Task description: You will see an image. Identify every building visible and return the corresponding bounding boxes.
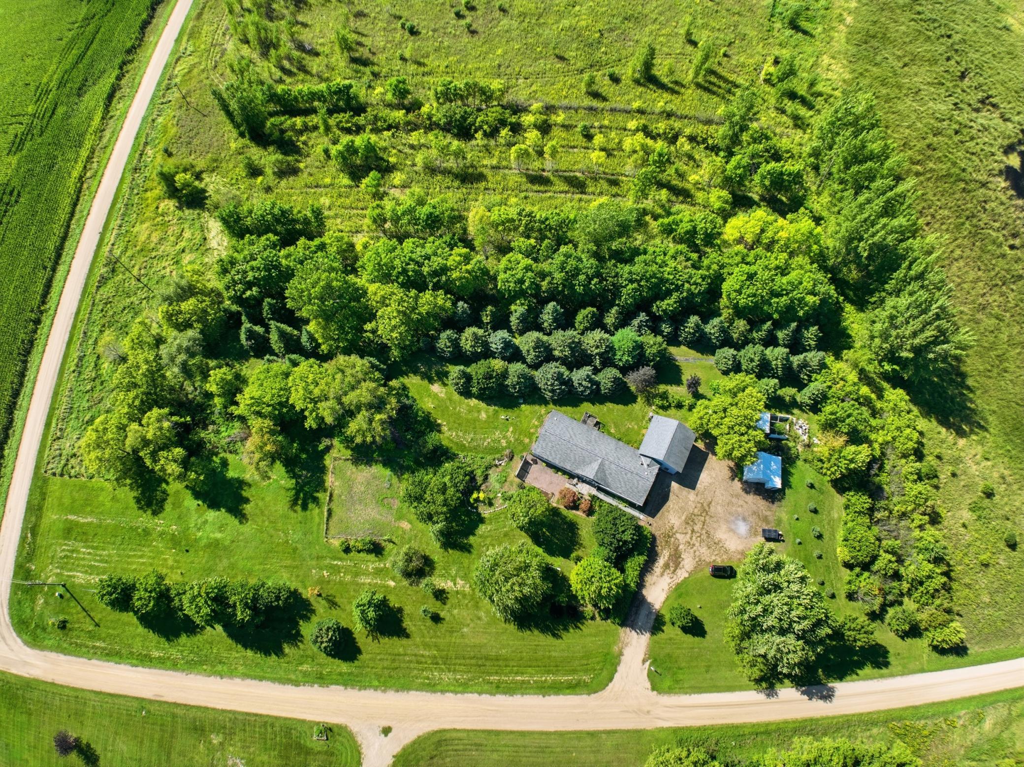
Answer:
[532,411,661,506]
[758,412,789,441]
[738,451,781,492]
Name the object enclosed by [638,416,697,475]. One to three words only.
building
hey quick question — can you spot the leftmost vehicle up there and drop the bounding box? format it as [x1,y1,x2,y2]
[710,566,735,578]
